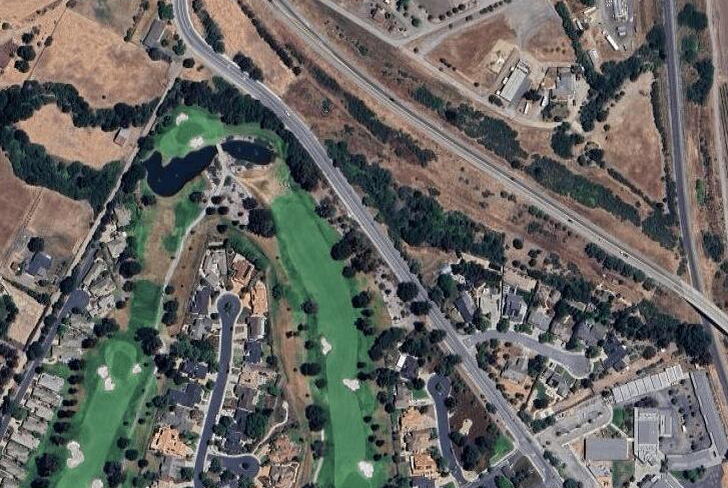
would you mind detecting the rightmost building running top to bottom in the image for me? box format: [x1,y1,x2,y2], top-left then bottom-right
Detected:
[694,372,728,456]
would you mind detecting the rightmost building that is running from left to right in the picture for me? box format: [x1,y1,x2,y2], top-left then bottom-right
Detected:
[665,450,721,469]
